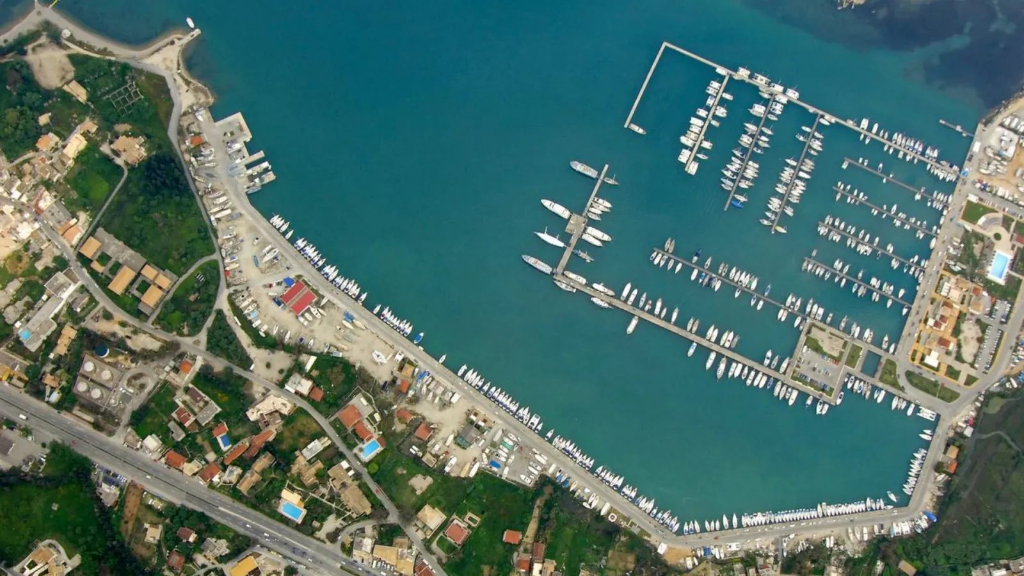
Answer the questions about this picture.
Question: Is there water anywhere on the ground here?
Yes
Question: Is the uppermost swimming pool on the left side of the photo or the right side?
right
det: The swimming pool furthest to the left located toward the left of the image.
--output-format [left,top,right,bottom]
[17,326,34,344]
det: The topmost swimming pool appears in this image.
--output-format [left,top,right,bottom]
[985,249,1012,282]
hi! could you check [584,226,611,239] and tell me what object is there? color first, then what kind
white boat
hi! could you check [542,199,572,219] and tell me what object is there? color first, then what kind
white boat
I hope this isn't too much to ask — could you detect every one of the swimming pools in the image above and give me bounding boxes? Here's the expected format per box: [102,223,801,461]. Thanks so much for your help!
[218,433,231,451]
[464,511,481,527]
[17,326,34,344]
[279,499,306,525]
[352,435,385,463]
[985,249,1012,282]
